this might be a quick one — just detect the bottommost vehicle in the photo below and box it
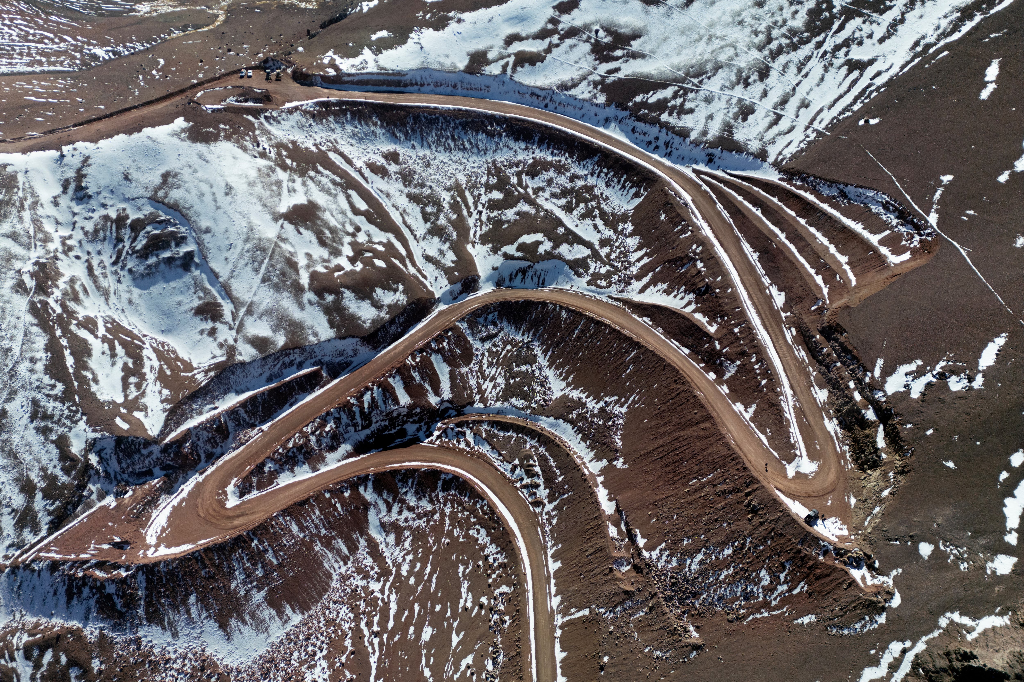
[802,508,821,523]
